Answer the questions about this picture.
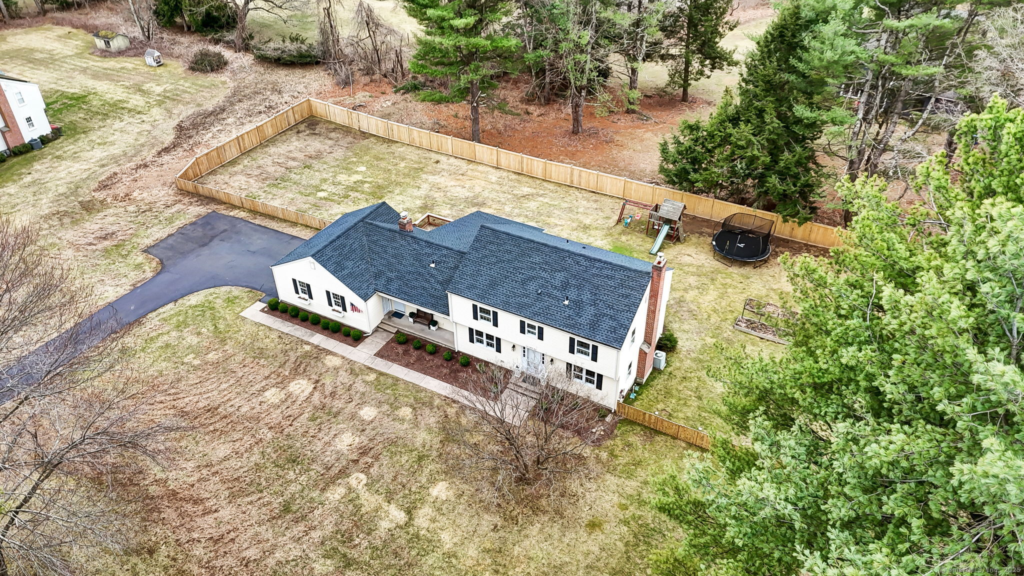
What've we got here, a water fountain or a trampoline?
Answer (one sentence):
The image shows a trampoline.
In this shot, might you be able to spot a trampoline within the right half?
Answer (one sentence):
Yes, a trampoline shows up within the right half.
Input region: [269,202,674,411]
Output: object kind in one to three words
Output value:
house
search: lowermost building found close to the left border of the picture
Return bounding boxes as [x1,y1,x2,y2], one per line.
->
[0,72,52,156]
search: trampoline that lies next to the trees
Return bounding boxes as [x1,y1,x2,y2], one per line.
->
[708,212,780,272]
